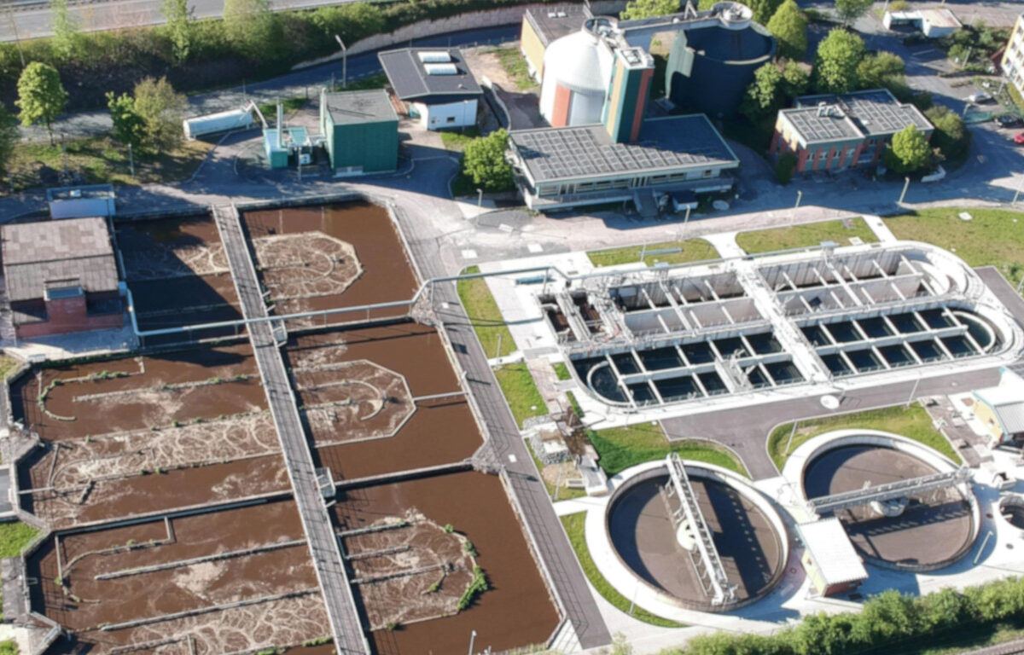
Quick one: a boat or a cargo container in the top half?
cargo container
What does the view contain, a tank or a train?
tank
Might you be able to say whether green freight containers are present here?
No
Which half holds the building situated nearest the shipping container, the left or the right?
left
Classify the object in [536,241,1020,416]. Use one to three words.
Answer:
storage tank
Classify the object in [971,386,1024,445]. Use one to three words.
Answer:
shed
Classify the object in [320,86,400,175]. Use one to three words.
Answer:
building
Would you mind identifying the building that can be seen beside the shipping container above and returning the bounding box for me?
[0,213,121,338]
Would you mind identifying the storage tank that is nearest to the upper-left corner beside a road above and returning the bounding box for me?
[184,105,255,139]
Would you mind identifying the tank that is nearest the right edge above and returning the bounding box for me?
[991,489,1024,545]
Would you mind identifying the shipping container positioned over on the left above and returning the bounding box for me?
[51,184,117,215]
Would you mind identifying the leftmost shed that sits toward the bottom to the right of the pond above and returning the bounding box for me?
[793,517,868,605]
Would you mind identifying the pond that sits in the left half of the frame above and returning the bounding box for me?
[3,191,568,655]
